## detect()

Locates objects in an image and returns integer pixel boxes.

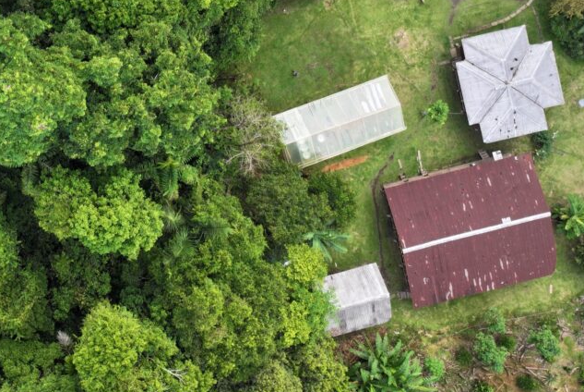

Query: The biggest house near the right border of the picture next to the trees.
[379,153,556,306]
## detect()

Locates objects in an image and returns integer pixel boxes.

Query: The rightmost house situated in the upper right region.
[455,28,567,143]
